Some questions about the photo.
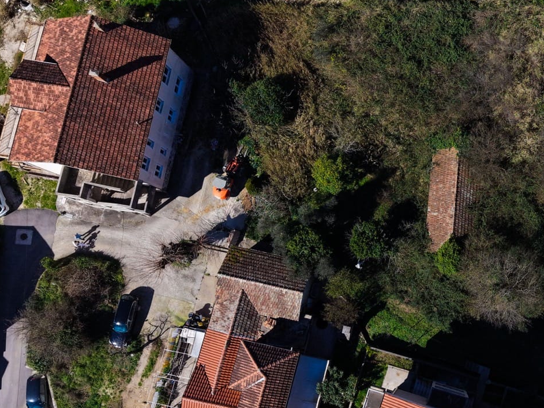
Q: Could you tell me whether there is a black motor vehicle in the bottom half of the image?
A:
Yes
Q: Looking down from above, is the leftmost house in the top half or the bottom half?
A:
top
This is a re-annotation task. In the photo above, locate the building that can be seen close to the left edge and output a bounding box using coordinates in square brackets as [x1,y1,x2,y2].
[0,14,190,219]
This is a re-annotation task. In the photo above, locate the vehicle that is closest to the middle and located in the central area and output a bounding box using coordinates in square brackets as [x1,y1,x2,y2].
[207,158,243,201]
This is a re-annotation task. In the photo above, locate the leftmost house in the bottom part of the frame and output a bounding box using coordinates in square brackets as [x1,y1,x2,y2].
[181,244,310,408]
